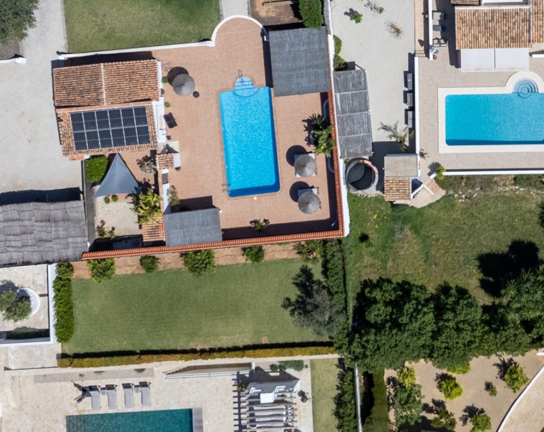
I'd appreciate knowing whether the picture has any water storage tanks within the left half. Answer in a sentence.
No, the scene shows no water storage tank within the left half.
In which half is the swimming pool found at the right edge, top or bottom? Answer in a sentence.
It is in the top half that the swimming pool found at the right edge appears.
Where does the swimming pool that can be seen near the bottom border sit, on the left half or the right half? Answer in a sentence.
The swimming pool that can be seen near the bottom border sits on the left side.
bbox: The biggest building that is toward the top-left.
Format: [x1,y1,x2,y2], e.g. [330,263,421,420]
[53,59,168,161]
